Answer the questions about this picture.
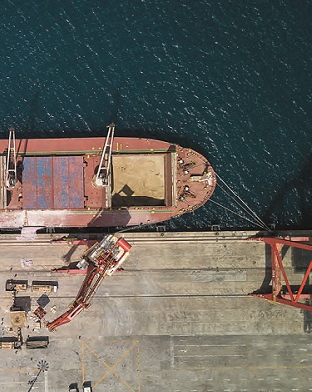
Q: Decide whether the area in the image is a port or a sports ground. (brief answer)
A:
port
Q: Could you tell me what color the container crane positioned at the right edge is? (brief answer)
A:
red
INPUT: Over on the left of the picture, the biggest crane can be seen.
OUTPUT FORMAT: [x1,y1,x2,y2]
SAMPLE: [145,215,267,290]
[35,229,136,333]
